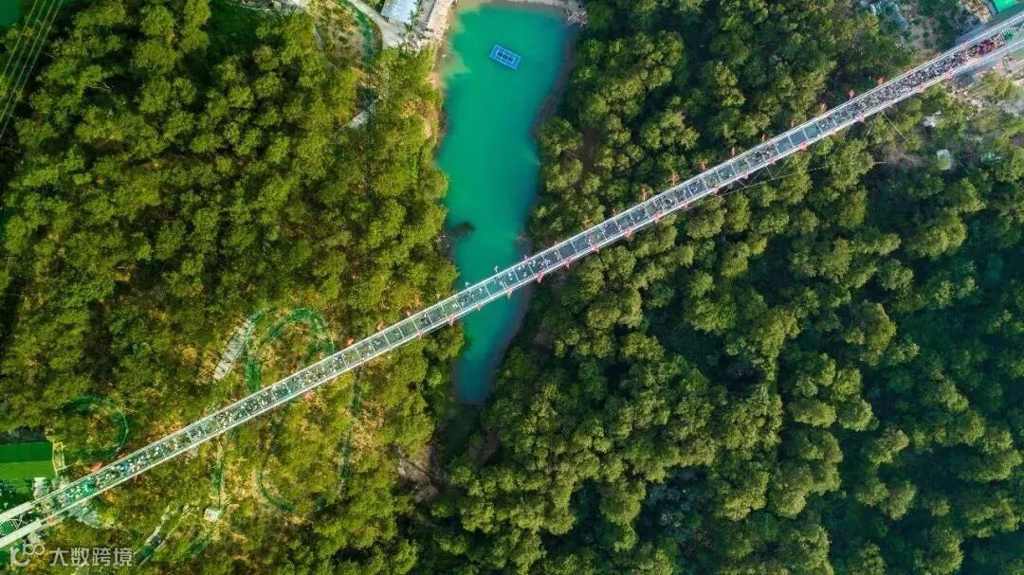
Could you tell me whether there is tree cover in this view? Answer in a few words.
Yes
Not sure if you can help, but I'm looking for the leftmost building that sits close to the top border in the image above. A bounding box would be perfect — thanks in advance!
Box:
[382,0,421,34]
